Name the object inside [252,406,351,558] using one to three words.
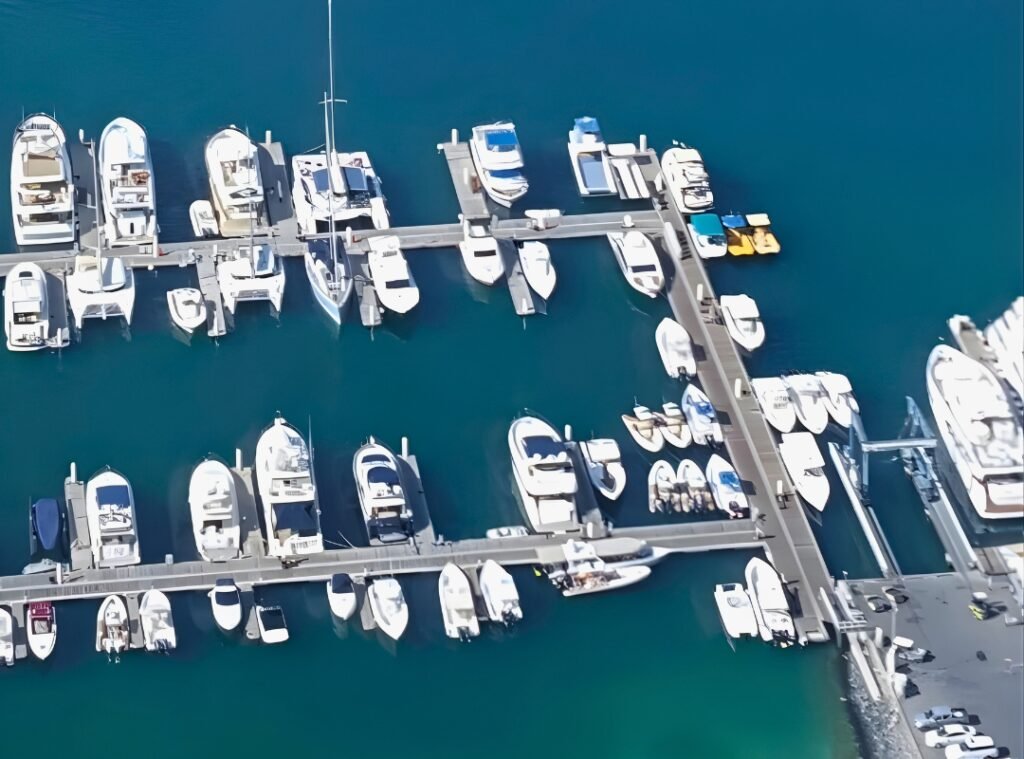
boat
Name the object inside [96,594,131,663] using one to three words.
boat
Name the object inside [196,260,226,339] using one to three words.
pier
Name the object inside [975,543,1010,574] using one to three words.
pier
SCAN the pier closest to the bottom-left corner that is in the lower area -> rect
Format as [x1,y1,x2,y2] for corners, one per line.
[13,604,26,661]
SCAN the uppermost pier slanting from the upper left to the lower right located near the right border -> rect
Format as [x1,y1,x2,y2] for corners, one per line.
[952,326,1010,402]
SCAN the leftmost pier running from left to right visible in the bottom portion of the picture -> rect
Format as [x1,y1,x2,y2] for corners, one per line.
[0,518,764,603]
